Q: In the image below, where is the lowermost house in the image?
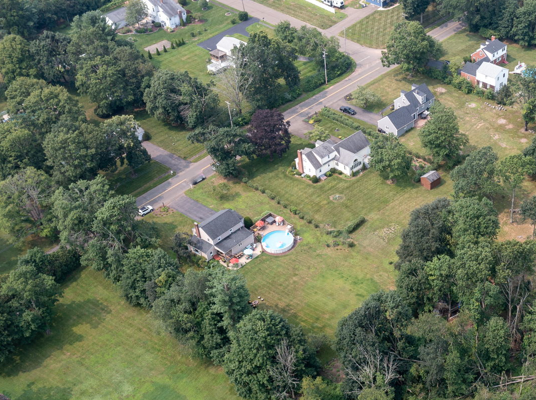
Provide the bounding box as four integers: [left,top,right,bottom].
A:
[184,206,253,261]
